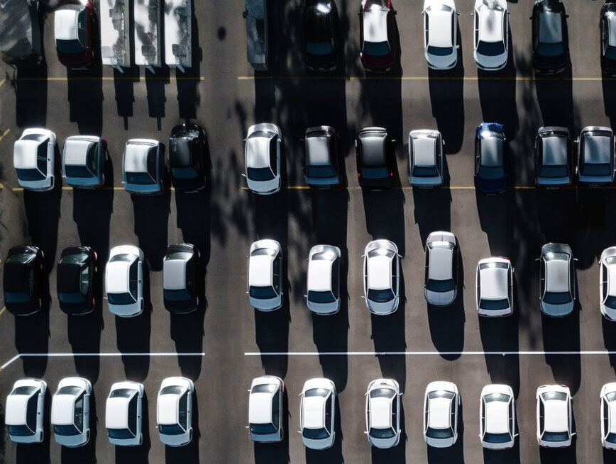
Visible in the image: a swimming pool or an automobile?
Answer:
automobile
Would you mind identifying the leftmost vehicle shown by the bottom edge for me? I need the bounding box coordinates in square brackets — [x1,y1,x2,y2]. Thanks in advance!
[2,379,48,444]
